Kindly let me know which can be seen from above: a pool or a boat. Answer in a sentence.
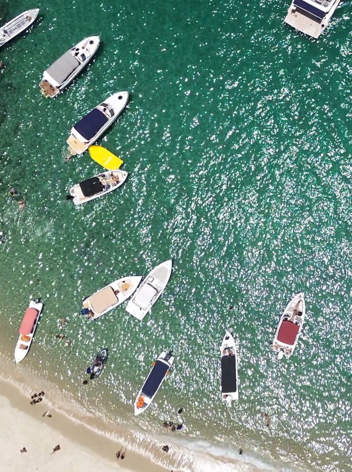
There is a boat in the scene.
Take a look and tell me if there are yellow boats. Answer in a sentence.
Yes, the frame does contain a yellow boat.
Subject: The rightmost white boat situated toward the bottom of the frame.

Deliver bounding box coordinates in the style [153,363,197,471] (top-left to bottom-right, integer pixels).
[270,292,304,358]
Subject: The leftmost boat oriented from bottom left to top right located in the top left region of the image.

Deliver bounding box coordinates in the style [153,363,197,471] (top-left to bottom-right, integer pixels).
[0,9,43,49]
